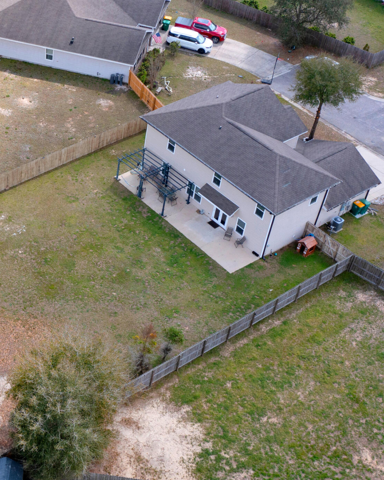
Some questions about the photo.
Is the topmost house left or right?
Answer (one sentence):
It is on the left.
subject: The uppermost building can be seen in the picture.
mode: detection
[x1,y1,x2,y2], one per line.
[0,0,169,81]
